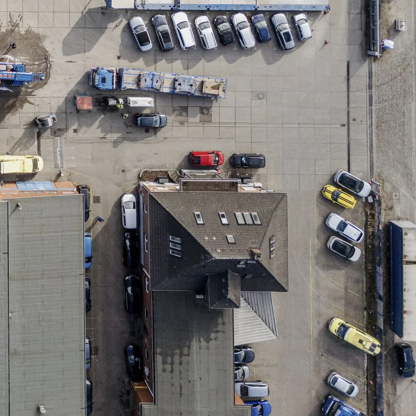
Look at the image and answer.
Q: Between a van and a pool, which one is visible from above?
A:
van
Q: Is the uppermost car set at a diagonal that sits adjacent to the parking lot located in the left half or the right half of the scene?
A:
right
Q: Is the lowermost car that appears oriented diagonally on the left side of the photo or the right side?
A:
right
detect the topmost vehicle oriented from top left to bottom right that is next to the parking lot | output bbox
[334,166,371,196]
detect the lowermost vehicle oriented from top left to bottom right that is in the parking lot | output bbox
[325,392,363,416]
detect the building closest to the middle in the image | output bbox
[136,158,289,311]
